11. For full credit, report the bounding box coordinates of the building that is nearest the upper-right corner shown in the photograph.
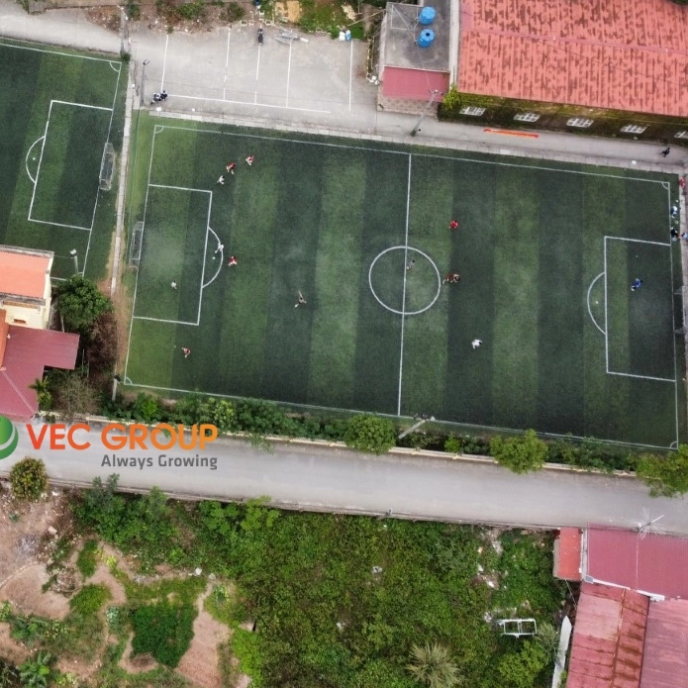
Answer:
[432,0,688,146]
